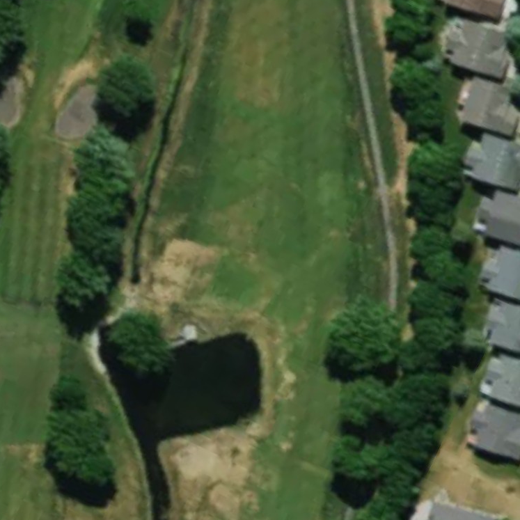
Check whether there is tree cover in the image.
Yes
